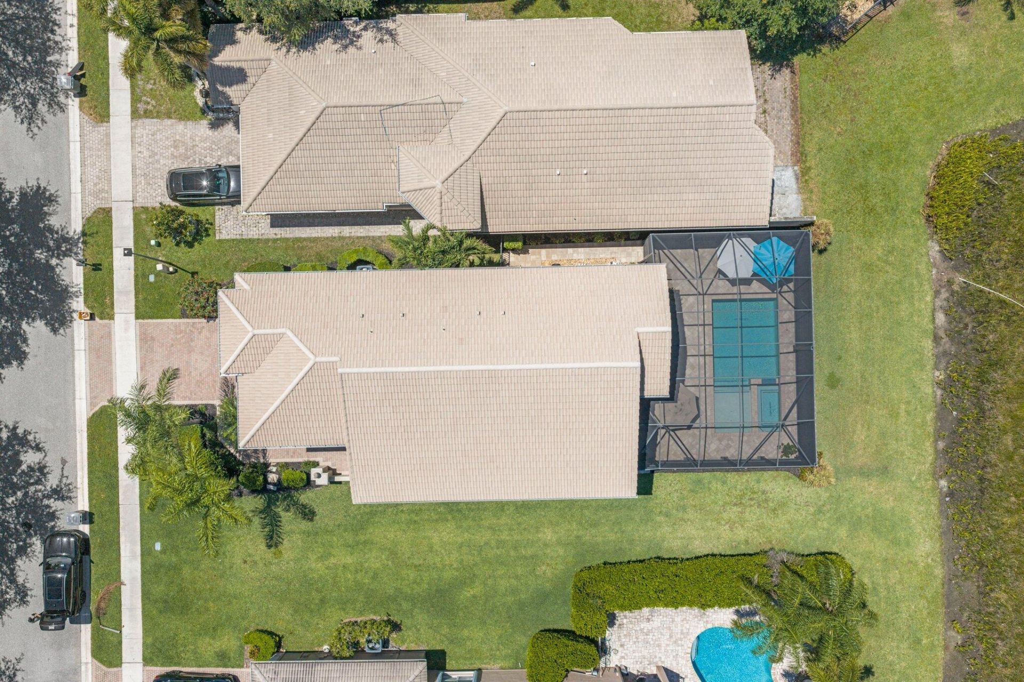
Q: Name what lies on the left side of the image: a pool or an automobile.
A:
automobile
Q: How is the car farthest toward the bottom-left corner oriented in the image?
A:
from top to bottom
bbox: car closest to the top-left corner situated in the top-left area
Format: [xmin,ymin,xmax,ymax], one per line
[167,165,240,206]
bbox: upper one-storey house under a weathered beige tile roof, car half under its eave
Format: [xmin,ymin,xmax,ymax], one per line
[206,12,774,235]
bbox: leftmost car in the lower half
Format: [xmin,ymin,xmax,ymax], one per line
[39,527,86,635]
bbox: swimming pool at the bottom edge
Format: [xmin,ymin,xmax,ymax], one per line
[686,617,783,682]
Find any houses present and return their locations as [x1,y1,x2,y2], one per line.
[206,12,774,235]
[249,651,669,682]
[217,262,672,506]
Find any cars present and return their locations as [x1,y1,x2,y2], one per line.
[151,672,234,682]
[167,165,240,206]
[39,527,86,635]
